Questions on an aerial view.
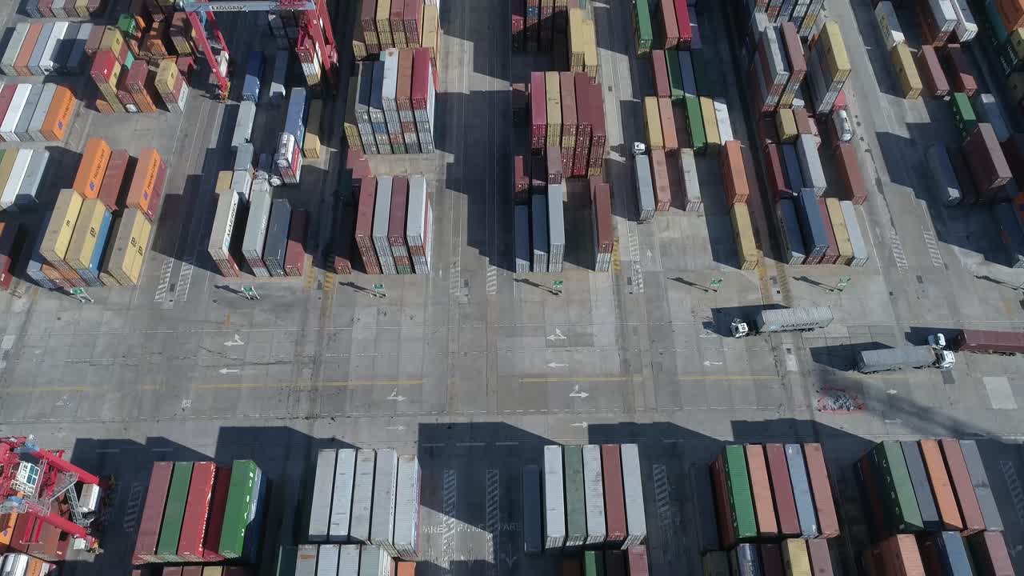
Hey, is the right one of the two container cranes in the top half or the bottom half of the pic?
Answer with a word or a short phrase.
top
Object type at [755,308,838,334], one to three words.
shipping container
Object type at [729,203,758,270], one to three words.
shipping container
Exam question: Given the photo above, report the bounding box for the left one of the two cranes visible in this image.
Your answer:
[0,435,108,558]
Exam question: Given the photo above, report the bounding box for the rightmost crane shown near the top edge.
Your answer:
[170,0,342,104]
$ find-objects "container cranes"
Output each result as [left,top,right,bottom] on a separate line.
[0,435,108,558]
[170,0,342,104]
